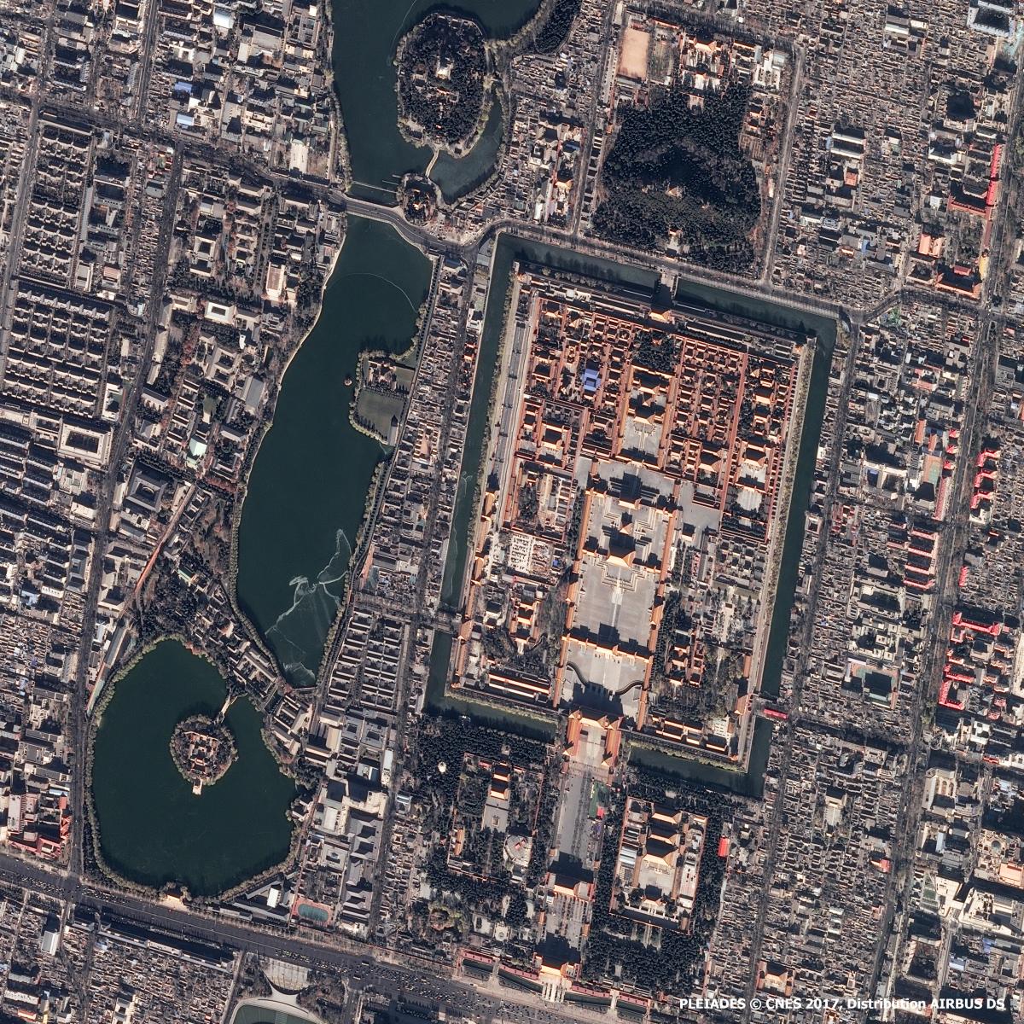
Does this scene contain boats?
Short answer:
No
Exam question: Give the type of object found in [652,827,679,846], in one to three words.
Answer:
building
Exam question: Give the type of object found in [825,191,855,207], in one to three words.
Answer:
building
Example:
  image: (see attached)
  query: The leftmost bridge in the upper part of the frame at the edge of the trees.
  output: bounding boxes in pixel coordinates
[343,196,398,222]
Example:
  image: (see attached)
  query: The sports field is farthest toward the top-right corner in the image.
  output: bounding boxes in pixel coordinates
[617,28,649,79]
